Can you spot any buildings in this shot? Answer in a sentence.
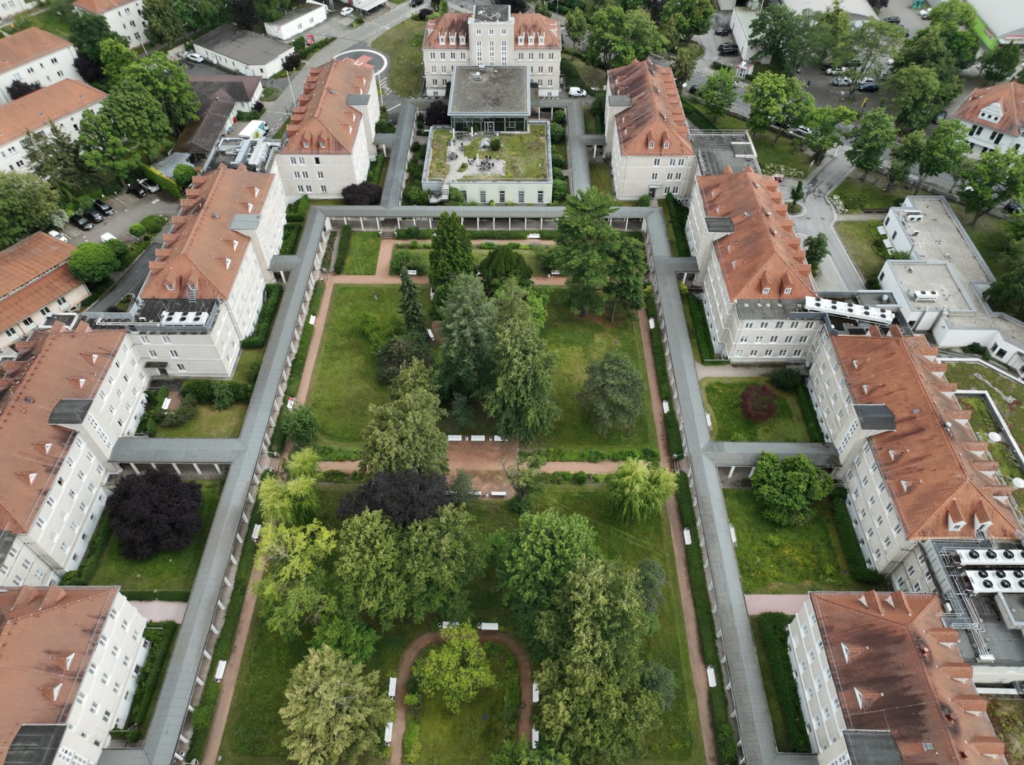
Yes, the photo shows a building.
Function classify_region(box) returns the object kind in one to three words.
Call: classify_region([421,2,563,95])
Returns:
building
